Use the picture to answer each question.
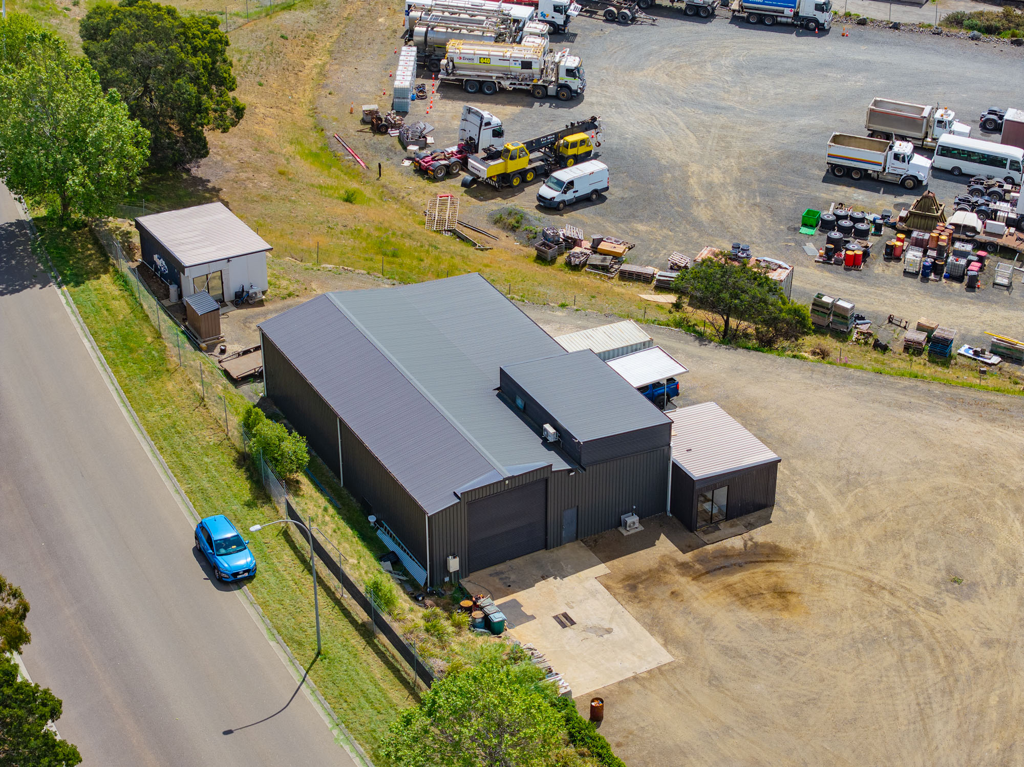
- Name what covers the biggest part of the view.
paved ground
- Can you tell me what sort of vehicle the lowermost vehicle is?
car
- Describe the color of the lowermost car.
blue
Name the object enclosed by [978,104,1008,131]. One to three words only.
truck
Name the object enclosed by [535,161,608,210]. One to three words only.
van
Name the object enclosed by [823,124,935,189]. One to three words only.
truck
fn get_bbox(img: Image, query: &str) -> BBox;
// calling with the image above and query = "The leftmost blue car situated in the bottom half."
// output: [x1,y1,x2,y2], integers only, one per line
[193,512,258,584]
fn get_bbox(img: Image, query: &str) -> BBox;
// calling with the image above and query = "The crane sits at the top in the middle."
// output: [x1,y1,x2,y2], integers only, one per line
[473,106,593,192]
